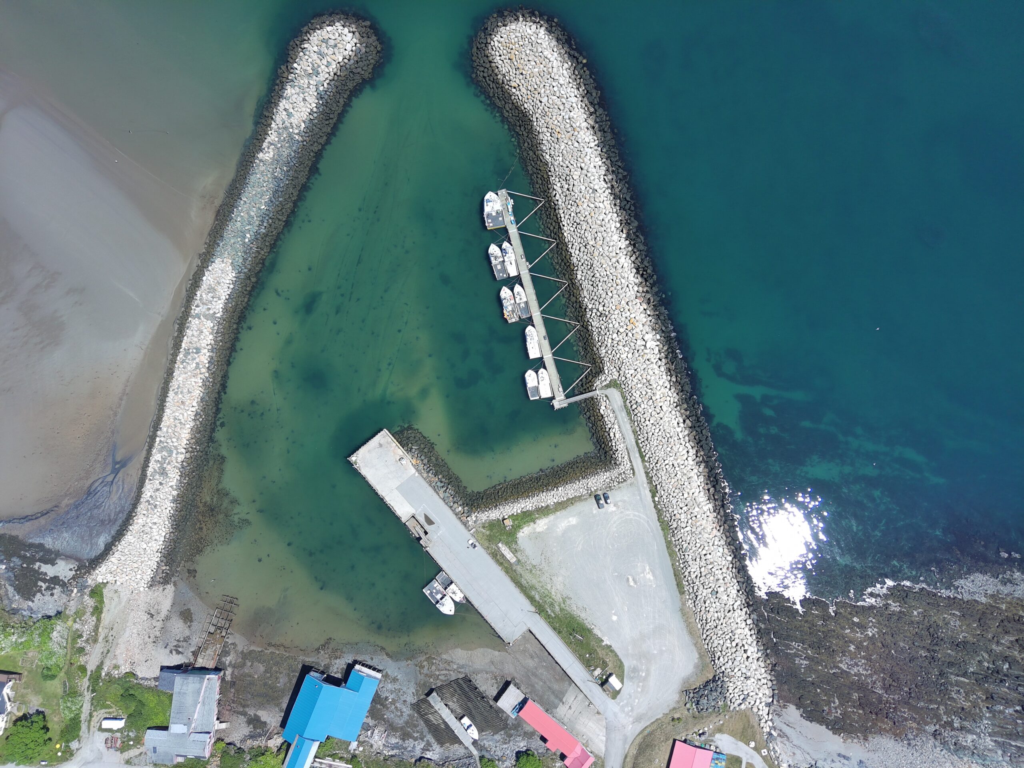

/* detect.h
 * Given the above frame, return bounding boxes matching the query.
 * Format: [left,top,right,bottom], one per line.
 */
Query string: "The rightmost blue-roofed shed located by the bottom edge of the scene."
[282,662,382,768]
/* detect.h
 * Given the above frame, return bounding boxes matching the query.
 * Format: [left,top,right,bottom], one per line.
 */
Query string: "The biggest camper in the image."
[102,718,131,730]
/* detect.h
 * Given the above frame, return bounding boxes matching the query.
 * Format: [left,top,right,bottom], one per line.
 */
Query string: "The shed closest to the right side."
[667,739,713,768]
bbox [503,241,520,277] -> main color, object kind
white boat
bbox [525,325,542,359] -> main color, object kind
white boat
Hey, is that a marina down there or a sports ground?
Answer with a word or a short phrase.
marina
